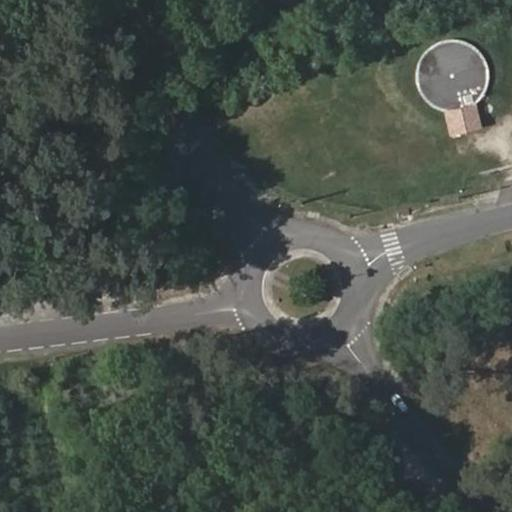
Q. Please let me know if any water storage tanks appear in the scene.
Yes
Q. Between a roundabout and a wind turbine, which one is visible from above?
roundabout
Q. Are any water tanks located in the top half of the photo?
Yes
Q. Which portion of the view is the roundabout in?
center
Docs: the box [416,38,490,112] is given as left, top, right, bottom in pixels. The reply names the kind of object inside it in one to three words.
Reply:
water tank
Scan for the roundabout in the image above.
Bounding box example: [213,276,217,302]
[228,207,388,361]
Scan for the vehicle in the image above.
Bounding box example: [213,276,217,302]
[392,394,409,414]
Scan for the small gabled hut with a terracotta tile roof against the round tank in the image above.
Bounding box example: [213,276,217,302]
[447,103,482,136]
